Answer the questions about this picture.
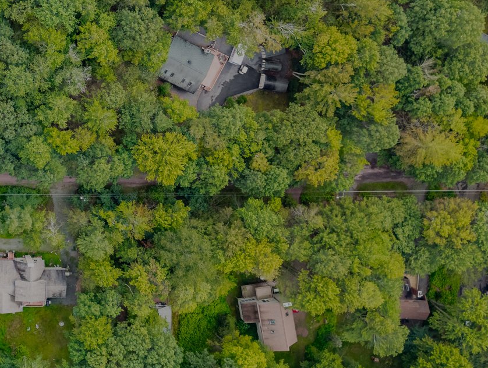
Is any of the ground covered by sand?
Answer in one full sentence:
No, there's no sand in this view.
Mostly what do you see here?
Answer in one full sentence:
Most of the picture is covered by trees.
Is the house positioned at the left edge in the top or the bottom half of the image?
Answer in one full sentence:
It is in the bottom half that the house positioned at the left edge appears.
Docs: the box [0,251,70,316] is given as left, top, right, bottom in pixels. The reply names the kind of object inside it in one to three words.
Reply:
house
